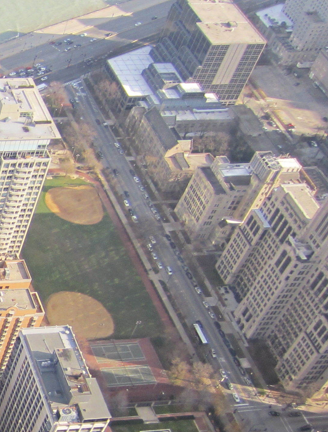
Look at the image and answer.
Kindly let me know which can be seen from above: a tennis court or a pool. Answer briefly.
tennis court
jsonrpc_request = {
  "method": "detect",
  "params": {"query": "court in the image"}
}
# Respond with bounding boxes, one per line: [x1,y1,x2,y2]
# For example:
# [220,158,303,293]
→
[88,340,157,387]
